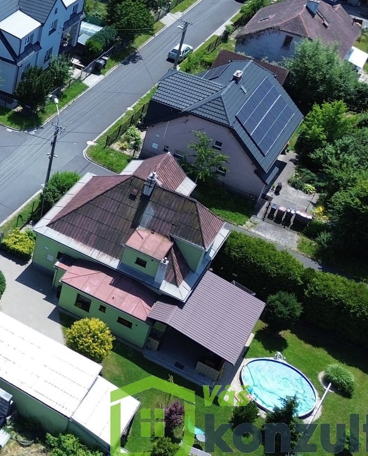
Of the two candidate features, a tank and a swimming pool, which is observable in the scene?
swimming pool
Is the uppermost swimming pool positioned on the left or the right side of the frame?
right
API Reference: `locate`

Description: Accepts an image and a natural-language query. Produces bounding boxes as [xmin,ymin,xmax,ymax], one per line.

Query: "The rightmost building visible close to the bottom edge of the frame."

[67,375,153,456]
